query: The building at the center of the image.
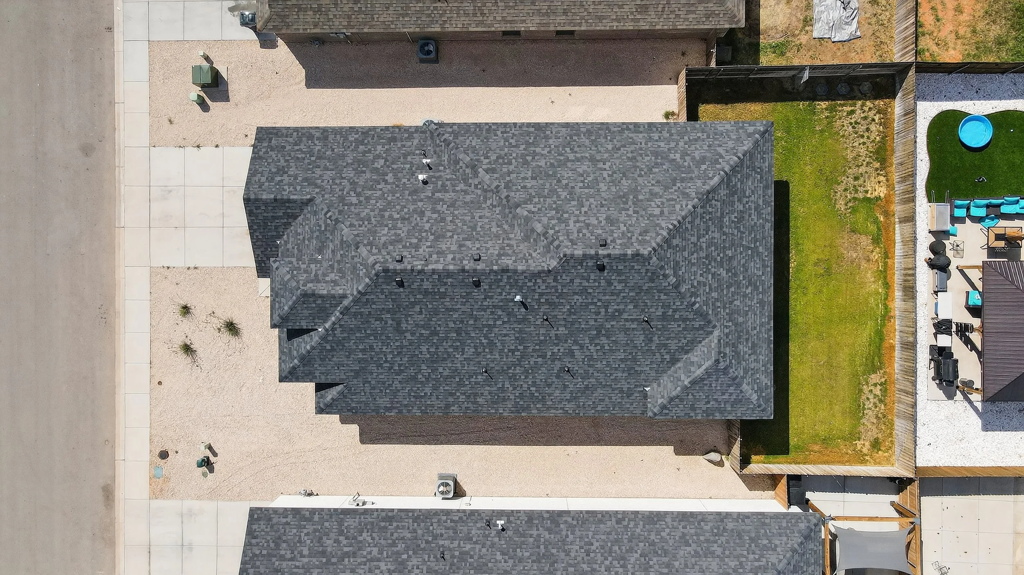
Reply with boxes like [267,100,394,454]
[243,120,774,420]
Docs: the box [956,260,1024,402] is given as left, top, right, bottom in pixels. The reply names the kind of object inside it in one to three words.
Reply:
gazebo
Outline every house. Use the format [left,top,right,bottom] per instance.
[238,496,822,575]
[243,120,774,420]
[257,0,745,41]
